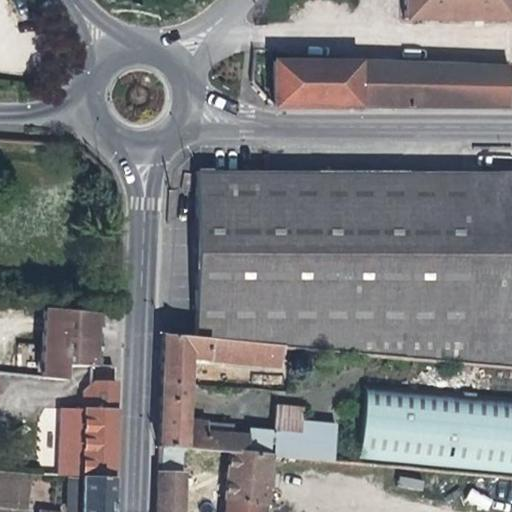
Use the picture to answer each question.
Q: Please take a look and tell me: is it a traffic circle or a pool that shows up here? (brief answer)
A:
traffic circle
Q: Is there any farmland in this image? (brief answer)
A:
No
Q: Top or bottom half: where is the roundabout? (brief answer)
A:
top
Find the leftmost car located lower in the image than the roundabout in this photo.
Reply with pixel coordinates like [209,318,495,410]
[120,160,134,184]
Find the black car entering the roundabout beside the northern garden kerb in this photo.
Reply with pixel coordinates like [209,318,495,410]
[160,28,182,44]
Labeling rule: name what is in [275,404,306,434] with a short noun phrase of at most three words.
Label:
shed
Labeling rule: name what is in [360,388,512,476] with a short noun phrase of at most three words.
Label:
building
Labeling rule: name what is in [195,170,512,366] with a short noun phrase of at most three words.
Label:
warehouse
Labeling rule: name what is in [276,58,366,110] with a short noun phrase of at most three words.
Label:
house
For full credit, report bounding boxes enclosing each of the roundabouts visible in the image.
[92,50,184,142]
